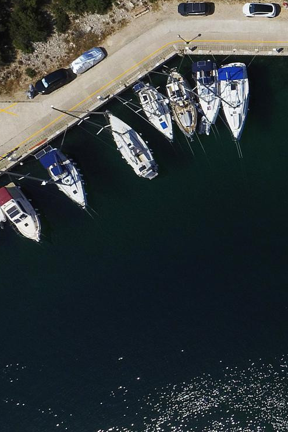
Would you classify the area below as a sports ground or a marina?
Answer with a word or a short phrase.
marina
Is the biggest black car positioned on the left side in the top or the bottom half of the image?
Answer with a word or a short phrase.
top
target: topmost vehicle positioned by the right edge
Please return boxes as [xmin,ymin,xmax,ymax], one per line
[244,1,278,20]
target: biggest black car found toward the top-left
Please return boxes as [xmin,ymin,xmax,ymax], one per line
[37,67,72,93]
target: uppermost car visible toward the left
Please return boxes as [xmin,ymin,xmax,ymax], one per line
[69,48,108,75]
